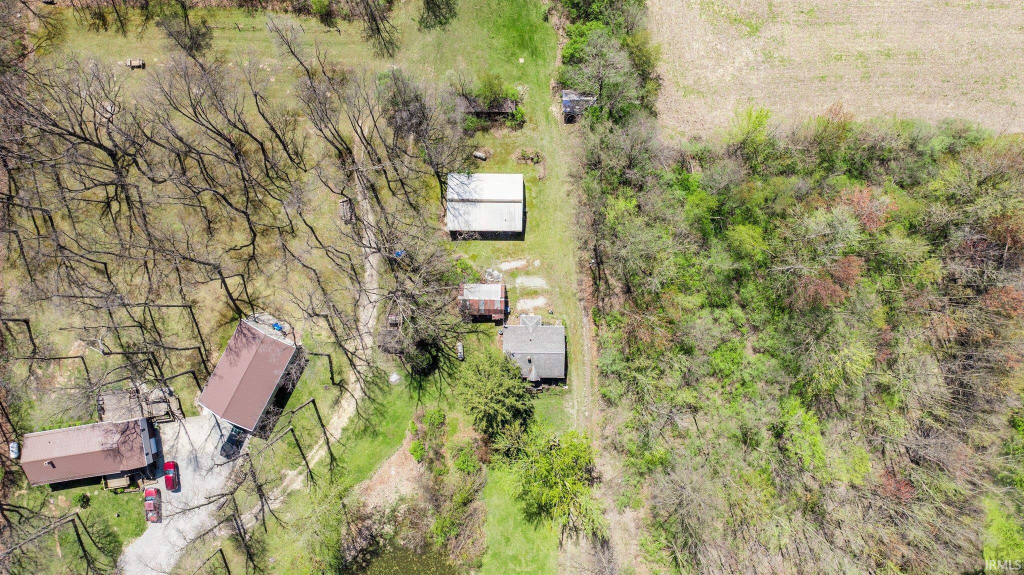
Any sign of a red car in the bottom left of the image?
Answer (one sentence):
Yes, looking in the bottom left of the image, one can make out a red car.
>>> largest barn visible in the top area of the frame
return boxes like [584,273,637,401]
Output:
[447,173,523,232]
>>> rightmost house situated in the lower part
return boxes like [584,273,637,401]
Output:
[503,315,566,382]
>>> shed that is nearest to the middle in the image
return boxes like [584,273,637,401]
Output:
[459,284,504,320]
